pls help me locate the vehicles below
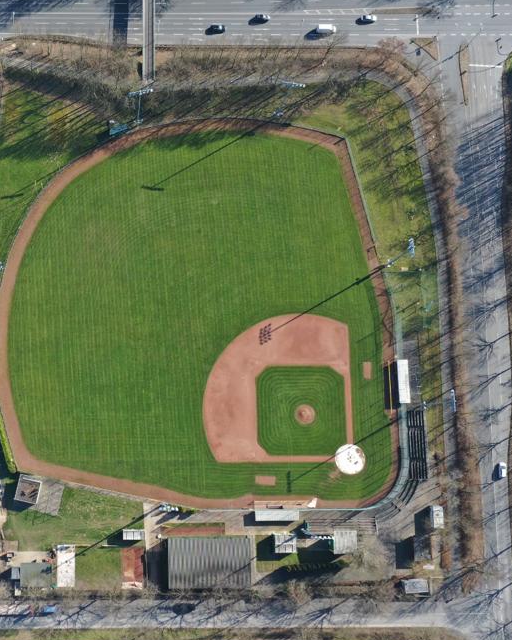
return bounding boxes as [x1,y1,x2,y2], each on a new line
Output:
[496,462,506,478]
[317,23,335,33]
[254,14,268,21]
[361,14,375,21]
[40,605,56,613]
[211,25,224,32]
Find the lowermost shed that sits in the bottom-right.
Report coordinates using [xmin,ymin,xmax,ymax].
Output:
[402,579,429,593]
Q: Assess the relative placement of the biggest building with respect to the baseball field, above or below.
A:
below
